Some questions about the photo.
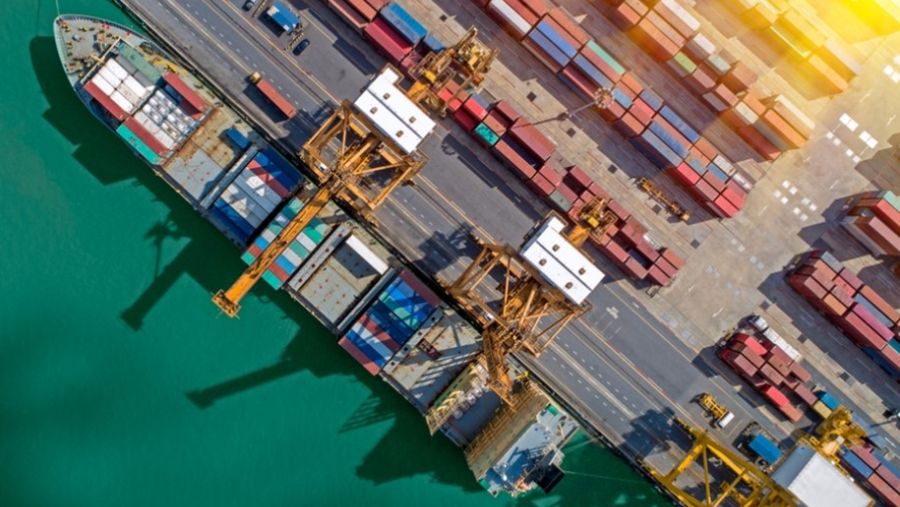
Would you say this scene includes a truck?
Yes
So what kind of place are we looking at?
port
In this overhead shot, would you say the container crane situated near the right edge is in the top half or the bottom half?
bottom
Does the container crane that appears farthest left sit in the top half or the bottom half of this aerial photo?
top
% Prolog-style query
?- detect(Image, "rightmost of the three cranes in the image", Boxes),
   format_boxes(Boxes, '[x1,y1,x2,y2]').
[636,401,876,507]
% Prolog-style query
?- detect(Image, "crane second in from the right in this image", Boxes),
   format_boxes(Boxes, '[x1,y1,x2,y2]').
[433,190,626,421]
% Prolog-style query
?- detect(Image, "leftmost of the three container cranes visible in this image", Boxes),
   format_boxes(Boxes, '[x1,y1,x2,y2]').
[213,21,502,322]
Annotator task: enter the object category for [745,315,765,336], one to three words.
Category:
vehicle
